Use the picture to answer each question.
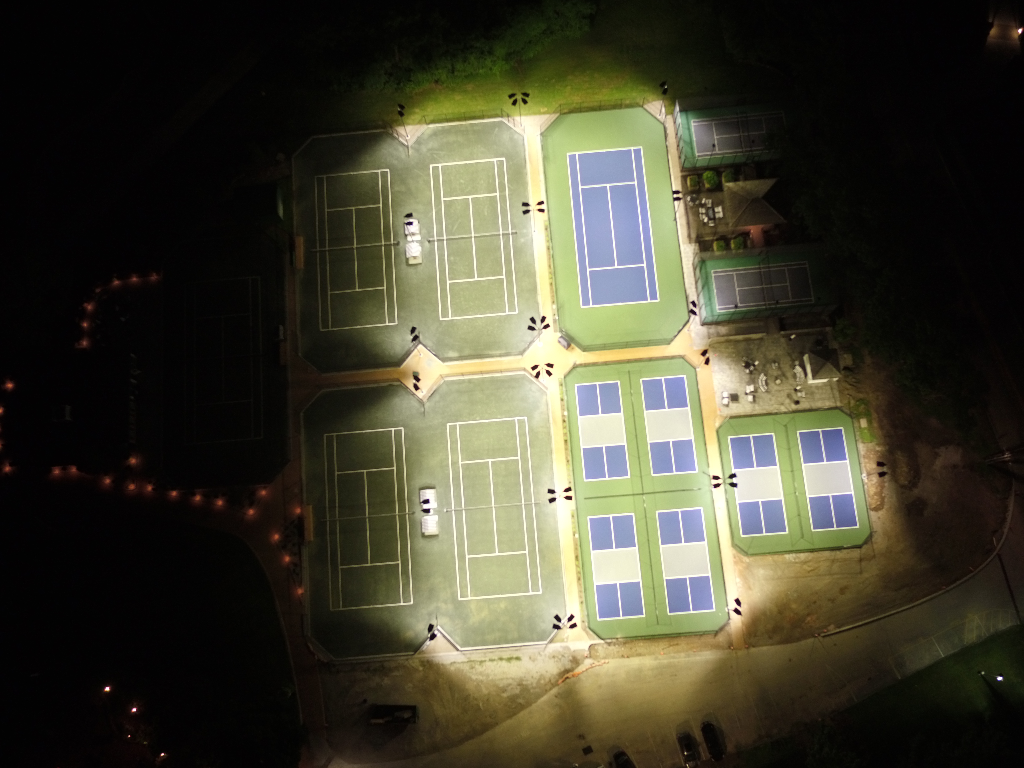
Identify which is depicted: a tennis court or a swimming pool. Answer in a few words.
tennis court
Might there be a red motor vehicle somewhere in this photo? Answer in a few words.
No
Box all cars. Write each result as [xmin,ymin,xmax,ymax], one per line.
[676,730,699,768]
[612,748,633,768]
[699,719,725,763]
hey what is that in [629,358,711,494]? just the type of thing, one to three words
sports court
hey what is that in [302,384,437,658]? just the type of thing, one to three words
tennis court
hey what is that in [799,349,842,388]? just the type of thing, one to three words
building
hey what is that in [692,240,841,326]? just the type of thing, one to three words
tennis court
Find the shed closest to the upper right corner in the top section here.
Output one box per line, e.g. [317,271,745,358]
[724,178,786,230]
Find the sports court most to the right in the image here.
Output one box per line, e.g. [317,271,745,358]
[783,409,870,551]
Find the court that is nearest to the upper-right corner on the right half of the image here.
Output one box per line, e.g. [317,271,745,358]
[673,88,814,172]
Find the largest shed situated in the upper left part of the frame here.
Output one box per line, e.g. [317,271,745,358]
[229,175,281,223]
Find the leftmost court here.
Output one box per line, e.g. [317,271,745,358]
[164,236,287,488]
